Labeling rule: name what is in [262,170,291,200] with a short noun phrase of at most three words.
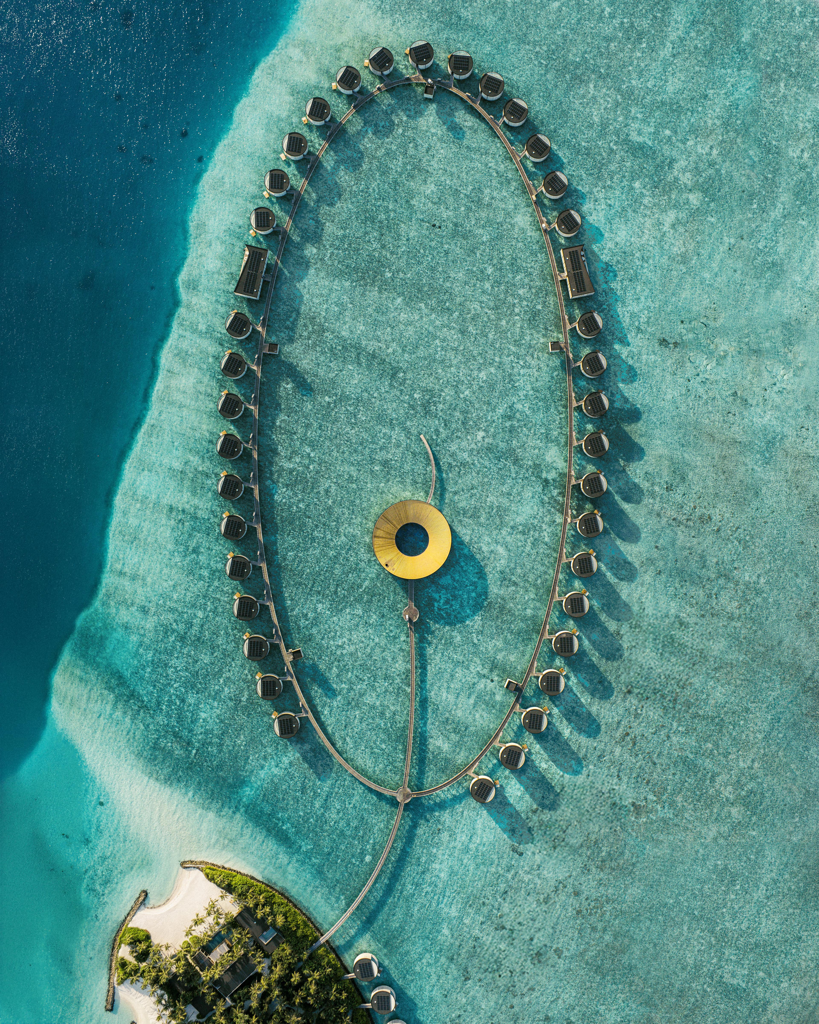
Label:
house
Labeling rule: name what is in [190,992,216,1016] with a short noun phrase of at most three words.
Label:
building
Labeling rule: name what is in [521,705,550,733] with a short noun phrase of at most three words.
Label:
house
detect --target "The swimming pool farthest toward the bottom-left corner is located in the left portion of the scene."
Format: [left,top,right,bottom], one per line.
[201,927,238,955]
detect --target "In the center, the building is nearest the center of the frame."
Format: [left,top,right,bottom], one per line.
[372,500,452,579]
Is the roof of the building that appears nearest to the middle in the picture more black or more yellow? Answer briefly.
yellow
